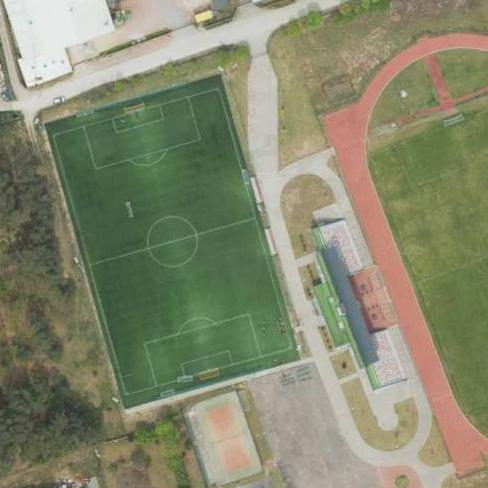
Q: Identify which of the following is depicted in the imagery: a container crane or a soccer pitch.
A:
soccer pitch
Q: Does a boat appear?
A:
No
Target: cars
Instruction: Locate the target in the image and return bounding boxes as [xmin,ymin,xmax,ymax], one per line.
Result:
[53,96,66,102]
[2,88,11,100]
